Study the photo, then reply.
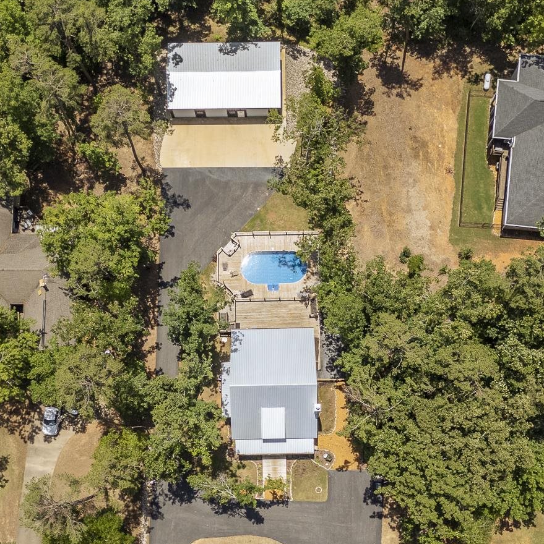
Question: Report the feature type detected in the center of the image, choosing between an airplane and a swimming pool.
swimming pool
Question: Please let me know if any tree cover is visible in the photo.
Yes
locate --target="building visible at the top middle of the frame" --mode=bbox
[168,42,282,117]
